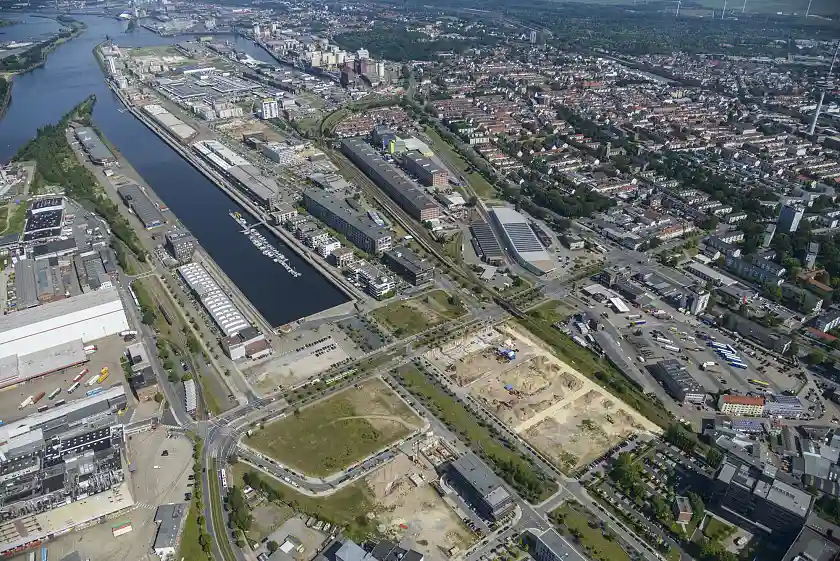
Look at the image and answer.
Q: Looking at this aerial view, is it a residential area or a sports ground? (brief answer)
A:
residential area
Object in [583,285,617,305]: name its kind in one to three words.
building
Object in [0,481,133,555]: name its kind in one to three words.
building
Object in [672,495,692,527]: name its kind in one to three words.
house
